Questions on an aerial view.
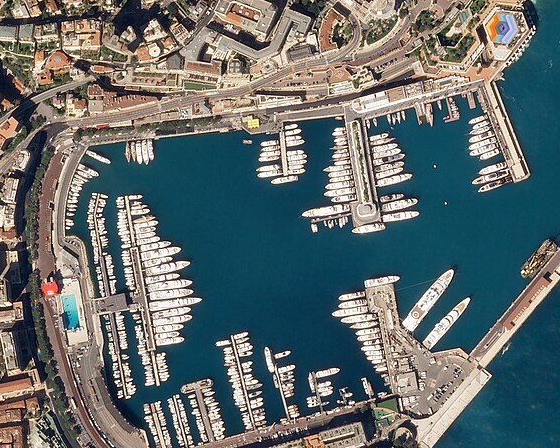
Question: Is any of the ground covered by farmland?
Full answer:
No, farmland can't be seen anywhere here.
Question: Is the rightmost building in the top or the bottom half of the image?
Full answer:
It is in the top half that the rightmost building appears.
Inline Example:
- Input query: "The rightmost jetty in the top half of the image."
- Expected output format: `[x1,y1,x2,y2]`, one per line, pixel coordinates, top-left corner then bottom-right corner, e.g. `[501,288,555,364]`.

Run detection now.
[484,82,531,181]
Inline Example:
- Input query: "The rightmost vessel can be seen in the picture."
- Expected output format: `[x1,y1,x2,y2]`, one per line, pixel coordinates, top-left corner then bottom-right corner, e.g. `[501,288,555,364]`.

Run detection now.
[518,237,557,280]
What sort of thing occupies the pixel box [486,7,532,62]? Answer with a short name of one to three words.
building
